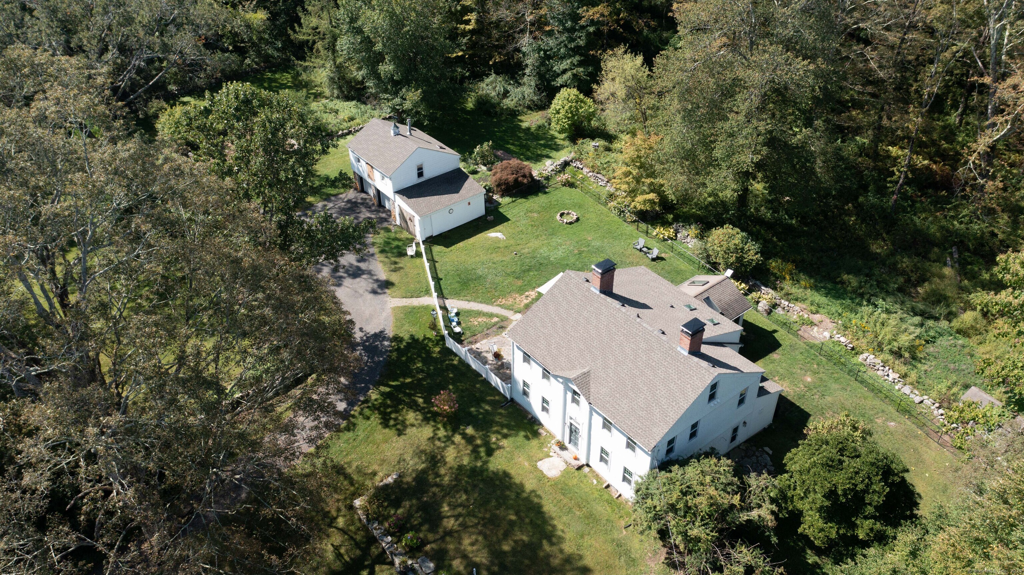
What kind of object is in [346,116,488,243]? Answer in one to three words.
barn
